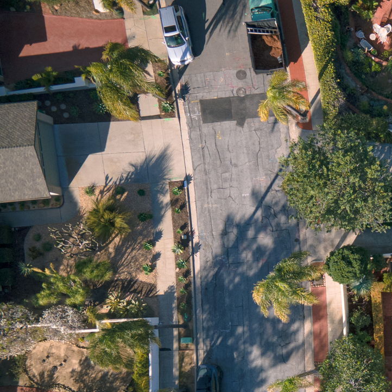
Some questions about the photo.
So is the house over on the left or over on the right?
left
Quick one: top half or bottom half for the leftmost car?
top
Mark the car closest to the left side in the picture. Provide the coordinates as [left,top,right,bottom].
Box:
[155,2,200,69]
